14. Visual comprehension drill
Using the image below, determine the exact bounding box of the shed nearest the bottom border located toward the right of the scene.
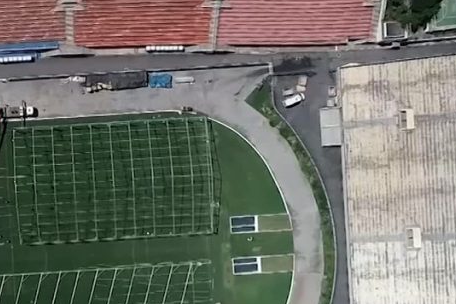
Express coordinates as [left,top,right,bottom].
[316,107,342,146]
